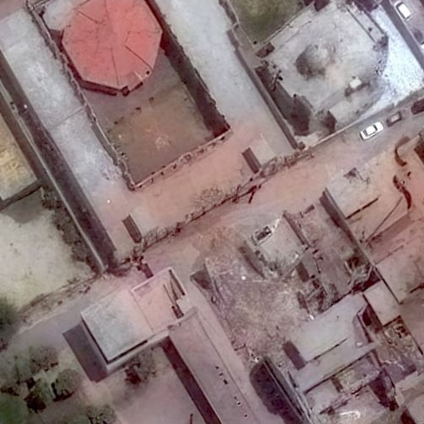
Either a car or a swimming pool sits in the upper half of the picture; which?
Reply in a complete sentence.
The one visible in the upper half of the picture is a car.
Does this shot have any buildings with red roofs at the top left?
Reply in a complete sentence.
Yes, I can see a building with a red roof at the top left.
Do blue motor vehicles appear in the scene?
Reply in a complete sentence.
No, there is no blue motor vehicle in the image.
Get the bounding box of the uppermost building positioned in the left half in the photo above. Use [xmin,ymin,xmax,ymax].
[62,0,162,93]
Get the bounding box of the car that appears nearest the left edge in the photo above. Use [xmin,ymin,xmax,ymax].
[359,122,384,140]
